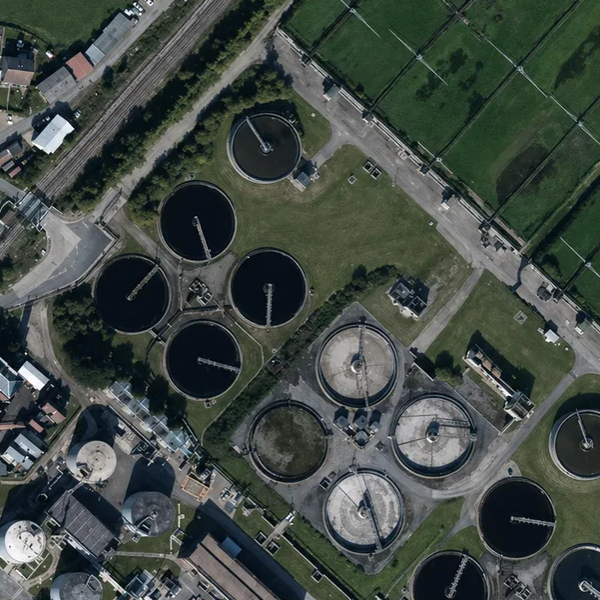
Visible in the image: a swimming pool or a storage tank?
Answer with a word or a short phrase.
storage tank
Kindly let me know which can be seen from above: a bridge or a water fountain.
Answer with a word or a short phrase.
bridge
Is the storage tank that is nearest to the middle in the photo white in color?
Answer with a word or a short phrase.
No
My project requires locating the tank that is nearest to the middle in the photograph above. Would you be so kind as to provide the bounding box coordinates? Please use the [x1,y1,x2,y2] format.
[227,247,310,330]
